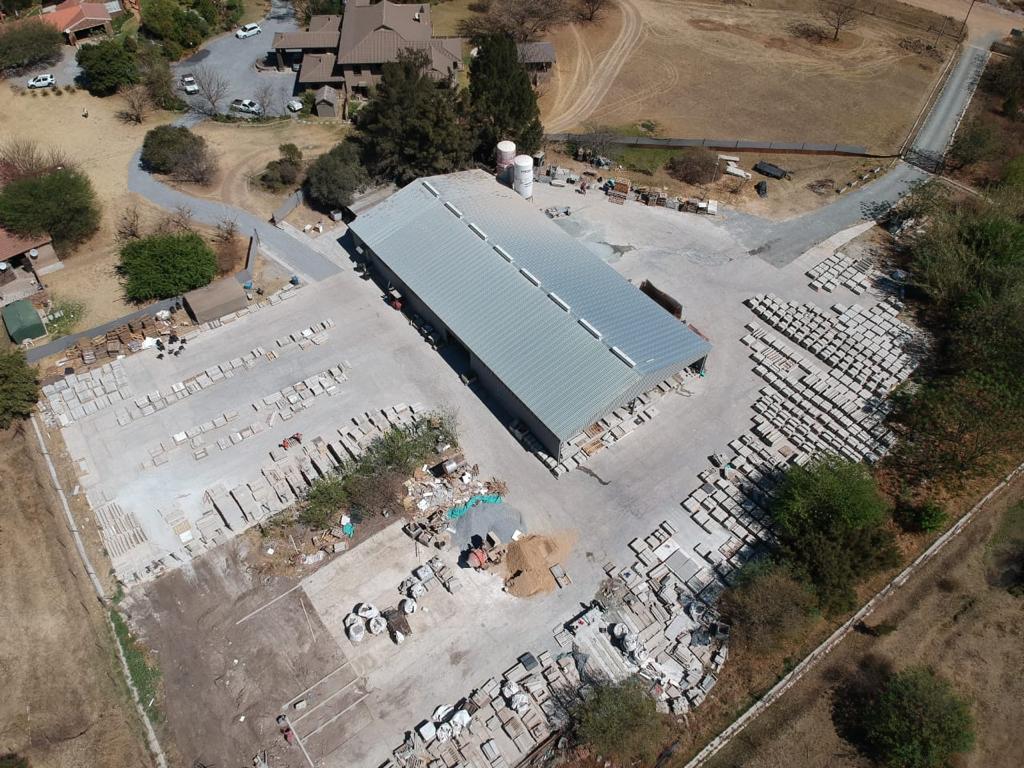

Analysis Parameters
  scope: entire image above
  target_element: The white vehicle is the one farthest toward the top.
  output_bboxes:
[234,20,263,38]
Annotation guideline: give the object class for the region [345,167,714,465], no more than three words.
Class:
shed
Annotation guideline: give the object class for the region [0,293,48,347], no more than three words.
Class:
tent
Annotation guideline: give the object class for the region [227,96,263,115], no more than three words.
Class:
vehicle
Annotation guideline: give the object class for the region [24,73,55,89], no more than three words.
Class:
car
